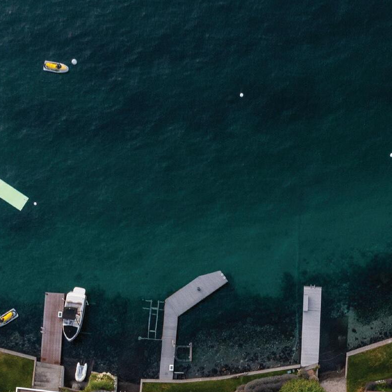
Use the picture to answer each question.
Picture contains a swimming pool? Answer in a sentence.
No, I can't see a single swimming pool in this photo.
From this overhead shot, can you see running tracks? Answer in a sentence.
No, this view has no running track in it.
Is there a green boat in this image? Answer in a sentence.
No, there isn't any green boat down there.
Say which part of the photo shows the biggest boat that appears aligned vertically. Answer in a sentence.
The biggest boat that appears aligned vertically appears toward the bottom left of the photo.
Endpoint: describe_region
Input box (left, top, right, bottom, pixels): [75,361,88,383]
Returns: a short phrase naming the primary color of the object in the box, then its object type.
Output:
white boat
